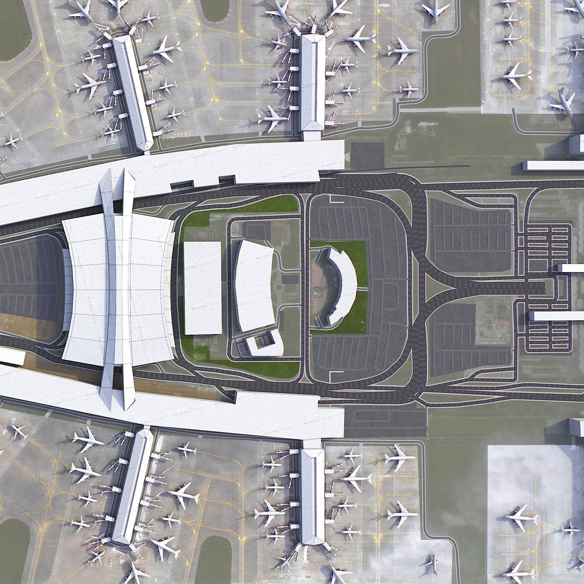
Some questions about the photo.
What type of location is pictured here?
airport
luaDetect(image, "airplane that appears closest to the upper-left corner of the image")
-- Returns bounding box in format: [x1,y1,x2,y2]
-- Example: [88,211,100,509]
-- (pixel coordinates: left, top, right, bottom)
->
[69,0,93,23]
